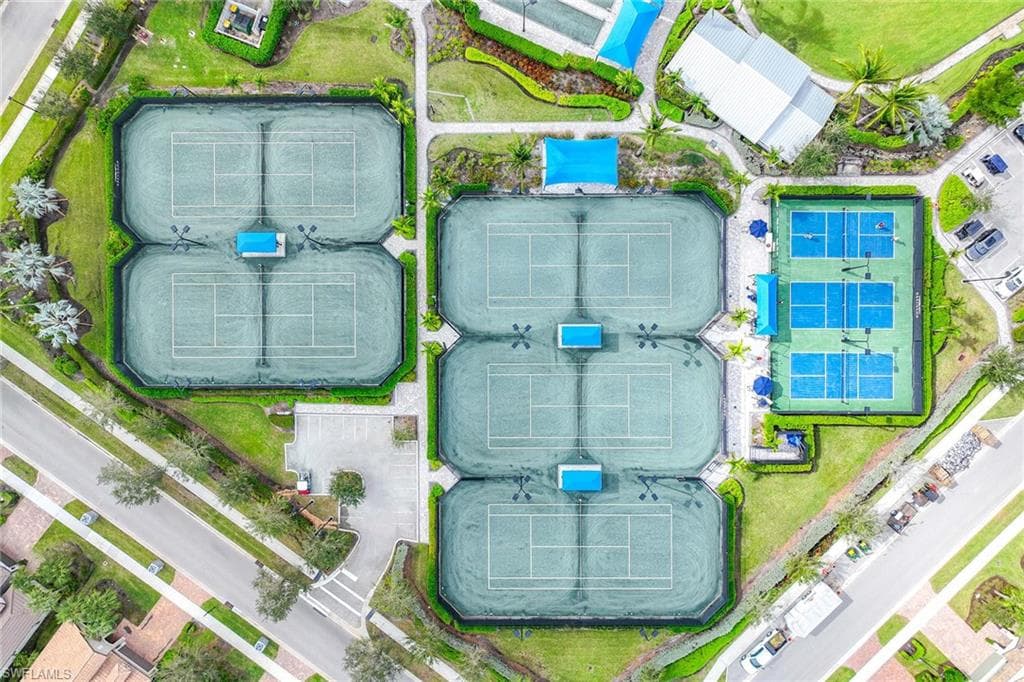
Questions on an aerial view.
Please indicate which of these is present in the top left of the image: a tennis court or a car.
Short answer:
tennis court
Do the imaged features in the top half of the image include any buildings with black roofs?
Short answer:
No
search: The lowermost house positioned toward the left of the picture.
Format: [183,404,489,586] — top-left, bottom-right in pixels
[18,622,158,682]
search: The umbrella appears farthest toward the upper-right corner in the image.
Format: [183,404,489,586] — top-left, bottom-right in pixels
[747,219,767,239]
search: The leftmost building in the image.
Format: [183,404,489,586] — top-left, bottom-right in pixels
[0,552,52,677]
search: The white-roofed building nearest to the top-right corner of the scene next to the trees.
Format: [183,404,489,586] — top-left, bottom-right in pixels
[665,10,837,165]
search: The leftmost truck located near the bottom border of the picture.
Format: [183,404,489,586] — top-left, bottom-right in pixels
[745,632,791,674]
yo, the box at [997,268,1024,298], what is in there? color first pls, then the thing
white car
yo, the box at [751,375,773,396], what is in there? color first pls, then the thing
blue umbrella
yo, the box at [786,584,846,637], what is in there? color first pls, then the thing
white trailer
